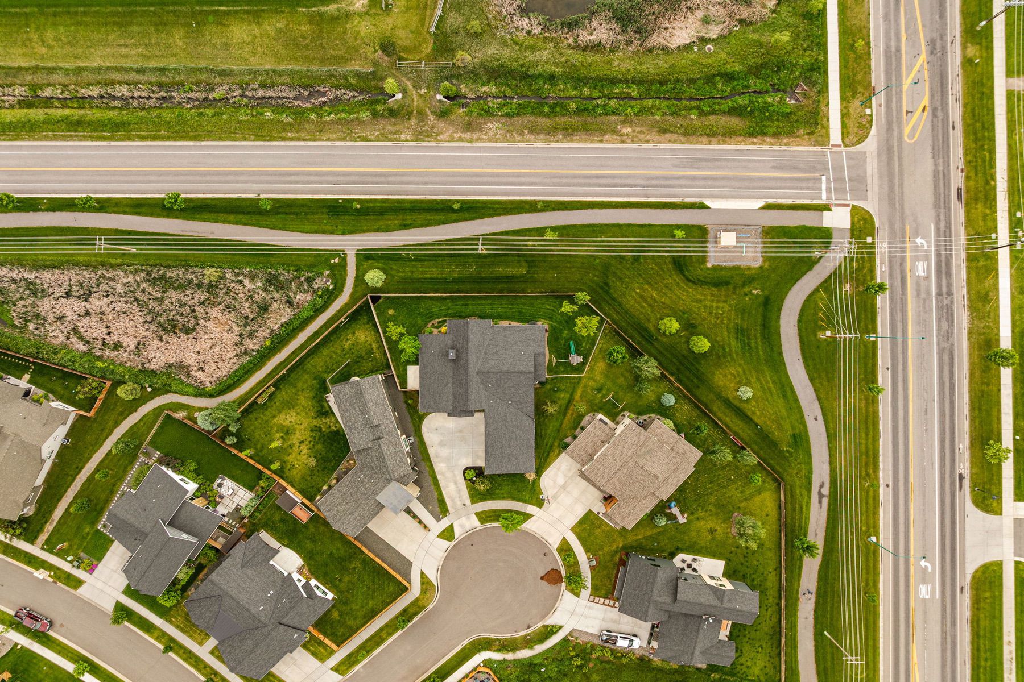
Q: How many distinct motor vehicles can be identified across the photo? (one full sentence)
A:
There are 2 motor vehicles in the image.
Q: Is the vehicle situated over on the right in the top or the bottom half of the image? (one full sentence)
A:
The vehicle situated over on the right is in the bottom half of the image.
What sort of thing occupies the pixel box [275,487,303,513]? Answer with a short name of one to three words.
shed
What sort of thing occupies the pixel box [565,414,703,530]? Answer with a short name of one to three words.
house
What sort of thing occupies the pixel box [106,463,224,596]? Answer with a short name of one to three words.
house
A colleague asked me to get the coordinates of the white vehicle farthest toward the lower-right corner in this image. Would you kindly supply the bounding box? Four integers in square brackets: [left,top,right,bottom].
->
[597,630,639,650]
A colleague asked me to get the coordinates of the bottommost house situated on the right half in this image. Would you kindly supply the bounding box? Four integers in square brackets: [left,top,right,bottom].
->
[615,553,759,667]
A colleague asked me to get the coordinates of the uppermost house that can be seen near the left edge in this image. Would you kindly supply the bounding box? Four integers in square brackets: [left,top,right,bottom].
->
[0,371,85,520]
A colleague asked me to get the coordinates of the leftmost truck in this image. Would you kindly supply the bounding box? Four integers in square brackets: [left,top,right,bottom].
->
[10,606,55,633]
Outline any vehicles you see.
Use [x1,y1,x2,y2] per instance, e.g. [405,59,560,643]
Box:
[597,630,639,650]
[10,606,55,633]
